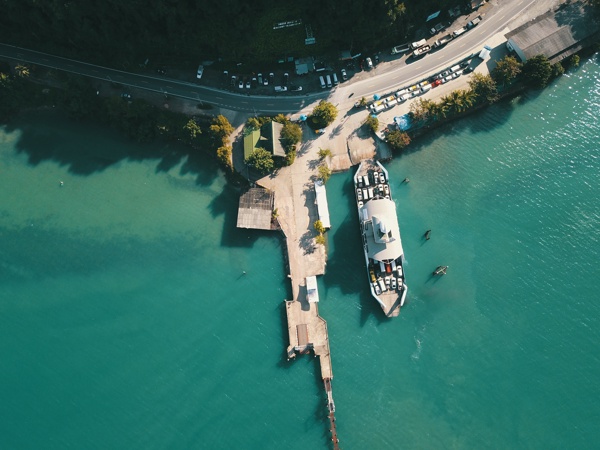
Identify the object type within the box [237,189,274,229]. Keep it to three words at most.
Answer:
building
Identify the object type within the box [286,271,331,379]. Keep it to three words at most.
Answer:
pier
